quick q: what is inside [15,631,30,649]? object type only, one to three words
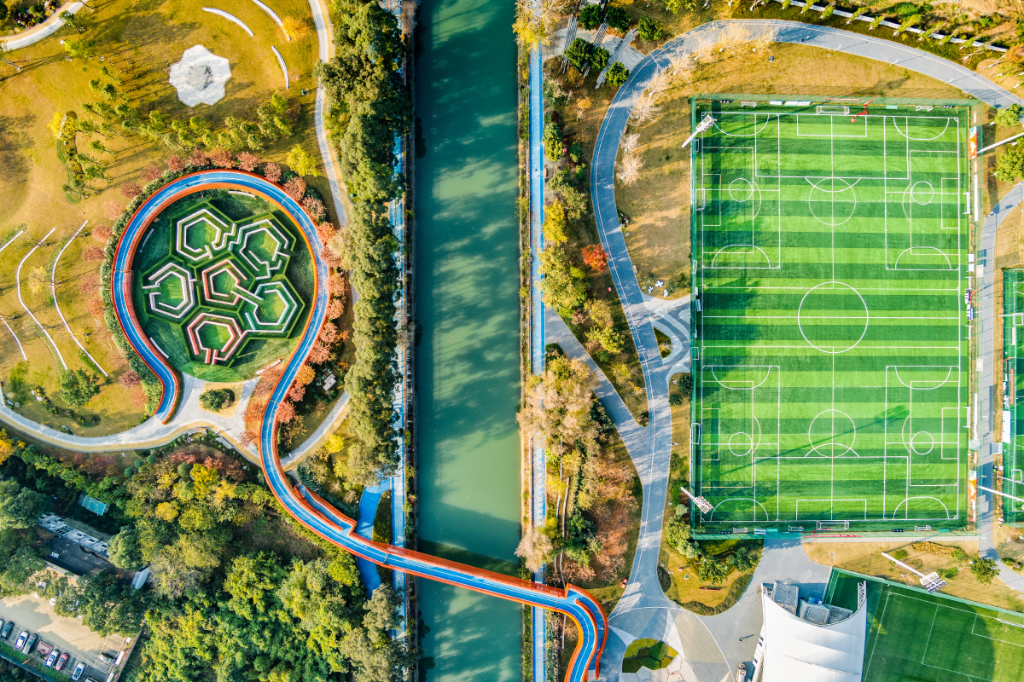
car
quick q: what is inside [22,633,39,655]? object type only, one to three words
car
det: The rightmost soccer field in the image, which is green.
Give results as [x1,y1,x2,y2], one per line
[1004,272,1024,523]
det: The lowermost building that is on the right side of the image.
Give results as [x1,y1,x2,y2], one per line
[745,577,874,682]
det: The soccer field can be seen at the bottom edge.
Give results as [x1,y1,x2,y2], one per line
[817,570,1024,682]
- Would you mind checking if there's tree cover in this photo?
Yes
